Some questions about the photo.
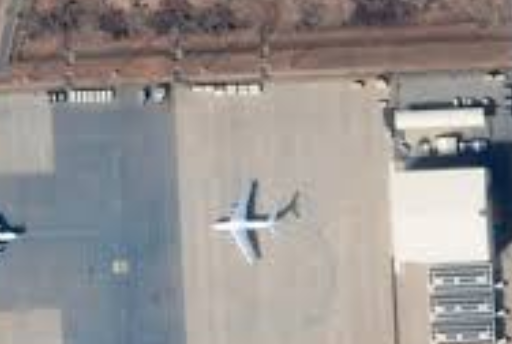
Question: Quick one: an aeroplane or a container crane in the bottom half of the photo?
aeroplane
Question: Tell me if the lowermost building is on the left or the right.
right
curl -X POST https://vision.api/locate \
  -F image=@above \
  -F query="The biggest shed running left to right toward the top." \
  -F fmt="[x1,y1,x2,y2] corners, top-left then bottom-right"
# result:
[394,107,487,130]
